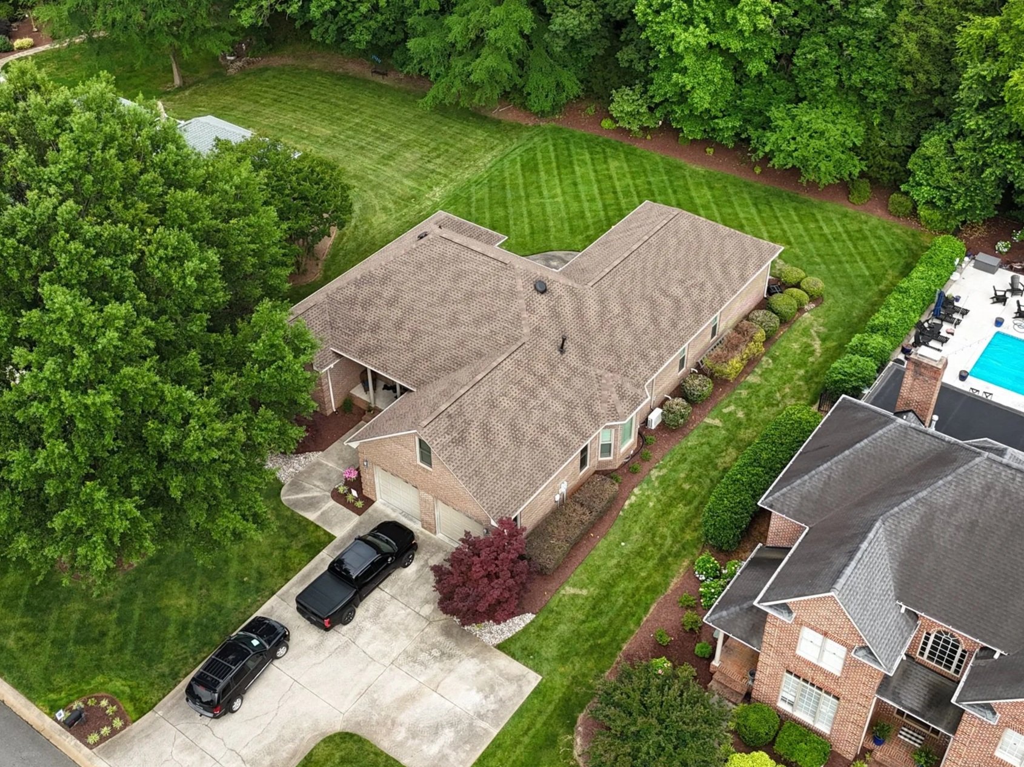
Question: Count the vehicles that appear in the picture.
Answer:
2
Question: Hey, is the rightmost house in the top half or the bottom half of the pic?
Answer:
bottom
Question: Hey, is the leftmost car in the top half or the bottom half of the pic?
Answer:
bottom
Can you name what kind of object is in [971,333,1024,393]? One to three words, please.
swimming pool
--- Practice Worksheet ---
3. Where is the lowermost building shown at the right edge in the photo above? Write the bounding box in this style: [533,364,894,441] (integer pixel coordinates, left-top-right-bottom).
[698,349,1024,767]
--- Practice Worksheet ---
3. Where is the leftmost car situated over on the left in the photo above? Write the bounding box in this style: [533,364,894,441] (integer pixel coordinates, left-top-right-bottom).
[178,611,290,723]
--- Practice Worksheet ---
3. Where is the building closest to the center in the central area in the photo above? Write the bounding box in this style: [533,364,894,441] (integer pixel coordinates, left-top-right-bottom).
[262,200,786,556]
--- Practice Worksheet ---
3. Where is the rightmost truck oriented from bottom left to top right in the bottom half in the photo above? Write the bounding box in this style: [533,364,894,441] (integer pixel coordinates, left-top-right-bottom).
[292,518,419,633]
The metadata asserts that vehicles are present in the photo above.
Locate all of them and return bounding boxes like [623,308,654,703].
[292,518,419,633]
[178,611,290,723]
